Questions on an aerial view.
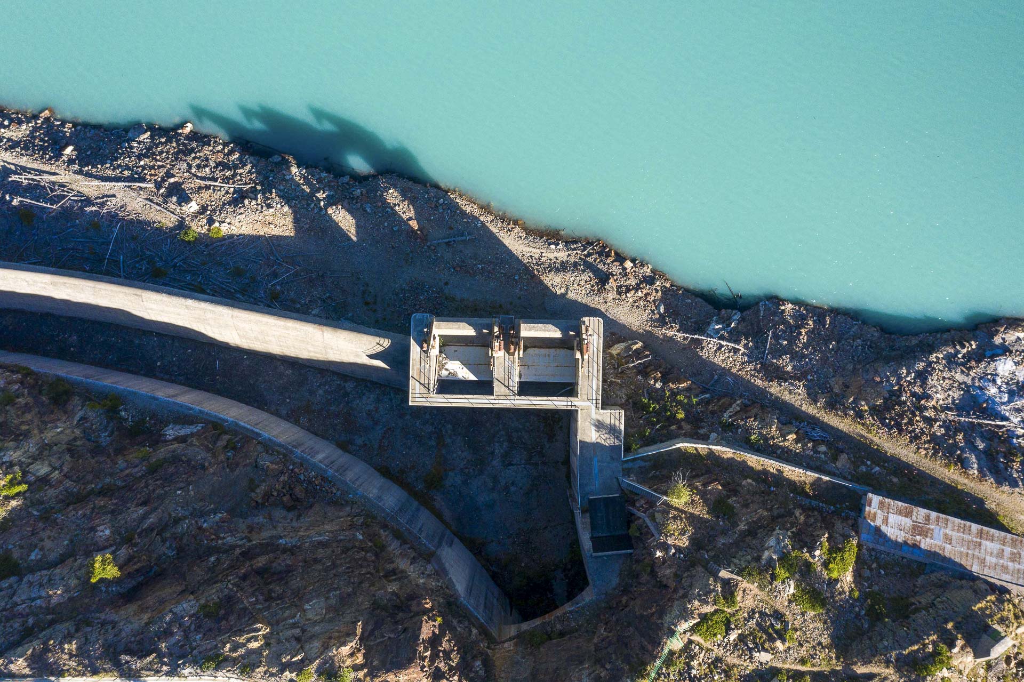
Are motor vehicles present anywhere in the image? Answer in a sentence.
No, the scene contains no motor vehicle.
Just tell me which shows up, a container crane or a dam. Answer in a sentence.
It is a dam that can be seen here.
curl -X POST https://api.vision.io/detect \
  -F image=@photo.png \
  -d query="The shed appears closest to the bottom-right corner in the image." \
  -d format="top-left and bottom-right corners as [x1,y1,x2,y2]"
[856,490,1024,588]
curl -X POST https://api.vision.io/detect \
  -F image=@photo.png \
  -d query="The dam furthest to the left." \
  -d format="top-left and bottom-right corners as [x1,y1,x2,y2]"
[0,259,409,391]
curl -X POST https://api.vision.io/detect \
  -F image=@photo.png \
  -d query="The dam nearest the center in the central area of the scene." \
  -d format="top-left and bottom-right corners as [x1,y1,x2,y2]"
[408,314,604,410]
